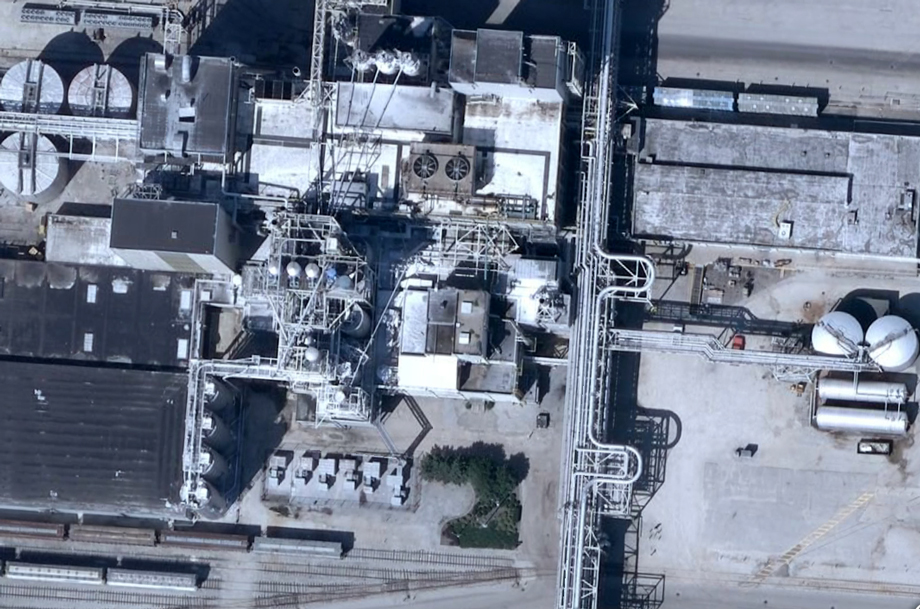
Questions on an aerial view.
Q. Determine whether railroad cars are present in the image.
Yes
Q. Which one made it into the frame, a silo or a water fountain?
silo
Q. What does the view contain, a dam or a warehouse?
warehouse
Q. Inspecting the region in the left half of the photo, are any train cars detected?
Yes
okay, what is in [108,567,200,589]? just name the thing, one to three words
rail car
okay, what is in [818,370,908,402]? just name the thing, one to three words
storage tank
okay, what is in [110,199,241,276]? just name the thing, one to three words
building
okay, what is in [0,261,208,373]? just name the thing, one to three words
warehouse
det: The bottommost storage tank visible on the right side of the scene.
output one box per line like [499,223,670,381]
[816,393,909,435]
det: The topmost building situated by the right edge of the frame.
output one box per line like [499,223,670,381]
[633,118,920,272]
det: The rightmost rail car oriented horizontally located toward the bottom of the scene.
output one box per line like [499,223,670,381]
[253,536,345,559]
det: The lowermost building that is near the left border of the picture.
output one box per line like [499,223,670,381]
[0,365,188,524]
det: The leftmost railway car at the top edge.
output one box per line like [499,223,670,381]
[21,7,80,27]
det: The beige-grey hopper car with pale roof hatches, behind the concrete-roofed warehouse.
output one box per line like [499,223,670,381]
[737,94,821,117]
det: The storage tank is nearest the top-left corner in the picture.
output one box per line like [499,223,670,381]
[1,54,72,113]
